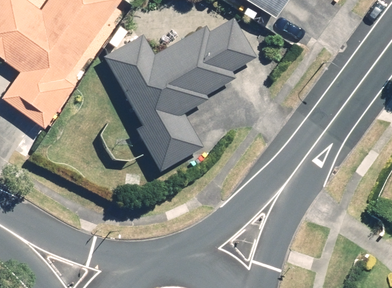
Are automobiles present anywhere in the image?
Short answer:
Yes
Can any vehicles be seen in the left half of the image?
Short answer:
No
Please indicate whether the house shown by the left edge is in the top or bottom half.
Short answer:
top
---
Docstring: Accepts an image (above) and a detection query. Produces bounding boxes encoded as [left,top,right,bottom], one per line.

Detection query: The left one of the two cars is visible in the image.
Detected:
[272,18,306,43]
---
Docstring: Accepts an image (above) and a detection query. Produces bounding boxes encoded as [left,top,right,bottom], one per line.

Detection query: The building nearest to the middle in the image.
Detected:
[103,18,258,172]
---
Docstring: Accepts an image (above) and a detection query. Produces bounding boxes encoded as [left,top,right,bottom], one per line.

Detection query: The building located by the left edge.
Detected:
[0,0,122,130]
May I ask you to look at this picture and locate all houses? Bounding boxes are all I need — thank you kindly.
[103,18,258,172]
[0,0,122,130]
[247,0,288,18]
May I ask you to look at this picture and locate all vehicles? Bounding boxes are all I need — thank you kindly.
[363,0,391,25]
[272,18,306,43]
